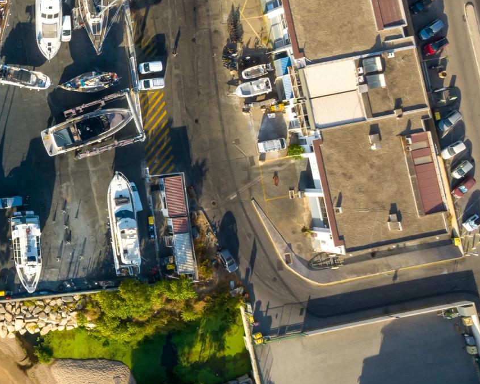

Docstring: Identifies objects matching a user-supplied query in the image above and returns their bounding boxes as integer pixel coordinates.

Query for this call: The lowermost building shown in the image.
[168,232,194,274]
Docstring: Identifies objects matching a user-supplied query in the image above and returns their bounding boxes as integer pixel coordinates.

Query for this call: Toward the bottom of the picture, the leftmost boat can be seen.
[11,211,44,295]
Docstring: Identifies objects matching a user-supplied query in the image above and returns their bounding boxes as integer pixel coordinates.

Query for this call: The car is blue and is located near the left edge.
[0,195,24,209]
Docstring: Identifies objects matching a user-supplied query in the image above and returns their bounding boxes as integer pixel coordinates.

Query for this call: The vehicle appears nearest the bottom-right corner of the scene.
[461,214,480,231]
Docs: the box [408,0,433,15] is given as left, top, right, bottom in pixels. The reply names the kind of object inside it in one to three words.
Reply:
car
